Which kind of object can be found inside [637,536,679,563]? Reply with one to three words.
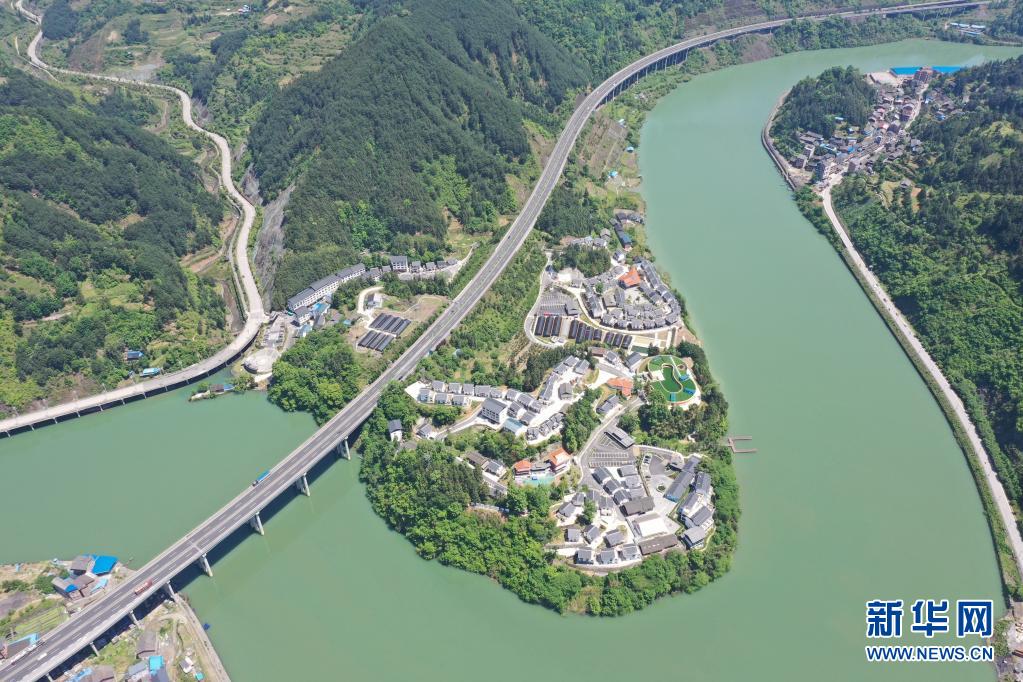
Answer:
house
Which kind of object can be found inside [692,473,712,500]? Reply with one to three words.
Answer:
house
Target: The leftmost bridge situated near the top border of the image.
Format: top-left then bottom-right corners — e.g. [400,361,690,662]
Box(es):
[589,26,758,101]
